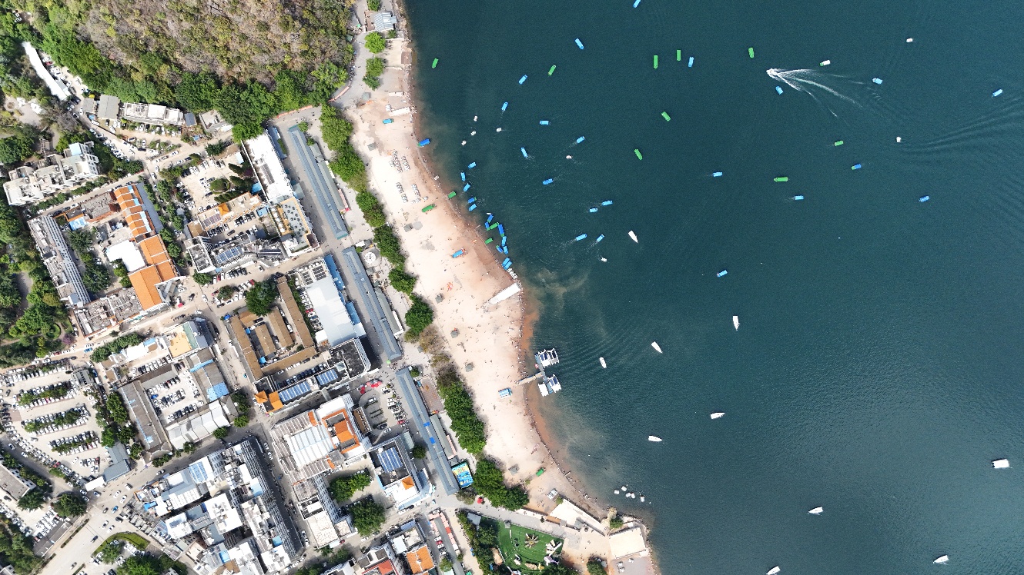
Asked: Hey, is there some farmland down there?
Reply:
No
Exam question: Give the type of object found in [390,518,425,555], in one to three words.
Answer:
house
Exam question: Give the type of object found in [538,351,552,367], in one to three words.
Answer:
boat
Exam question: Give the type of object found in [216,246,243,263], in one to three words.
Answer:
solar panel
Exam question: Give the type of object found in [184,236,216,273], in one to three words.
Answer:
building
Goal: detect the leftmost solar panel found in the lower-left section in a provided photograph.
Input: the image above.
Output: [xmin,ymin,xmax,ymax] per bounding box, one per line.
[190,462,208,483]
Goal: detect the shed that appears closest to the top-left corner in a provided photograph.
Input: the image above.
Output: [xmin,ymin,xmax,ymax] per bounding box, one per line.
[23,41,75,100]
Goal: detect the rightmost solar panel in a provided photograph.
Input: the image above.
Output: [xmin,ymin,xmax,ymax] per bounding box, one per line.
[378,447,403,473]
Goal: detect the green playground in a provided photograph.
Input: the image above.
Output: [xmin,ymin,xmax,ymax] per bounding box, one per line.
[478,514,564,575]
